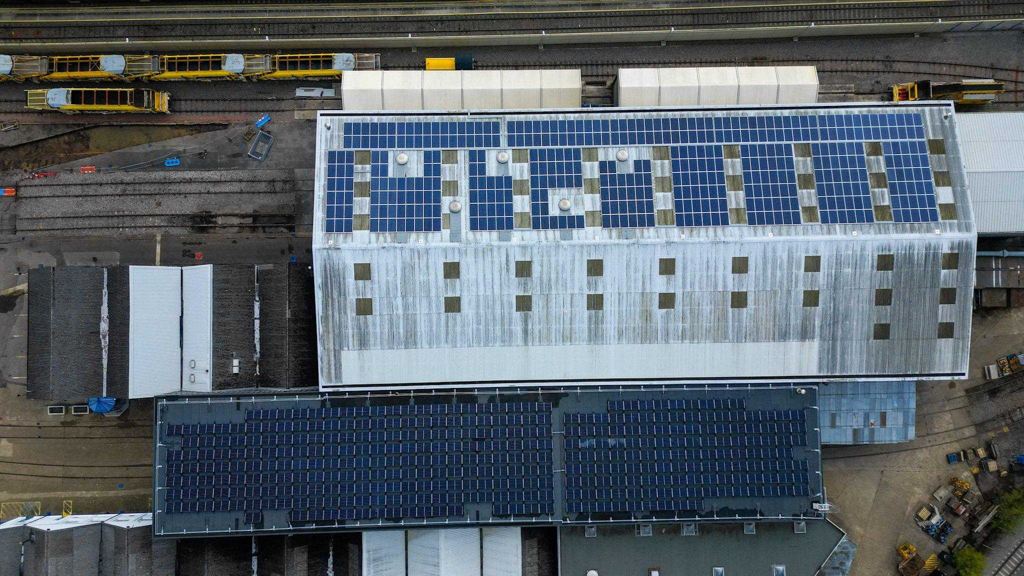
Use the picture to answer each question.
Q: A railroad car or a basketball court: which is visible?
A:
railroad car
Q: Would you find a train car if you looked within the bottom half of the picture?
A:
No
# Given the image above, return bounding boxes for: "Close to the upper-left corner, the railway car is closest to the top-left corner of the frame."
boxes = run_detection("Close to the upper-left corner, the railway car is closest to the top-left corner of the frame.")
[0,56,45,85]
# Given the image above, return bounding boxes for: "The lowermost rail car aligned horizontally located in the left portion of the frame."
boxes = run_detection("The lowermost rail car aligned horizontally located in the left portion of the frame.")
[25,88,175,117]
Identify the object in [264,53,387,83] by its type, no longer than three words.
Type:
rail car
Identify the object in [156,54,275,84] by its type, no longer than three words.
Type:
rail car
